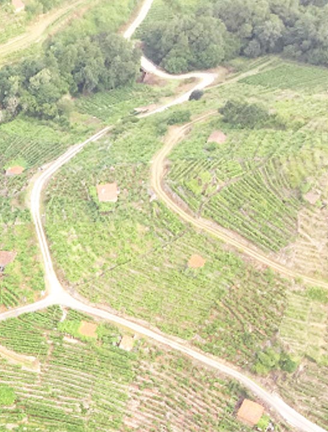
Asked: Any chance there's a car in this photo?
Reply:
No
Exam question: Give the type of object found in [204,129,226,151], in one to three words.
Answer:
shed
